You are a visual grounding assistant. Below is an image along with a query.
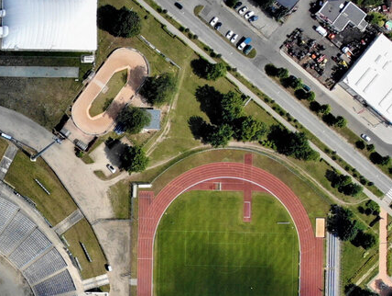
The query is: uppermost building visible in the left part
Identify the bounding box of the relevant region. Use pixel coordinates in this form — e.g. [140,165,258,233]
[0,0,101,55]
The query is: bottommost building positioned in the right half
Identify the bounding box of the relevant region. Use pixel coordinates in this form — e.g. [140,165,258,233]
[331,33,392,133]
